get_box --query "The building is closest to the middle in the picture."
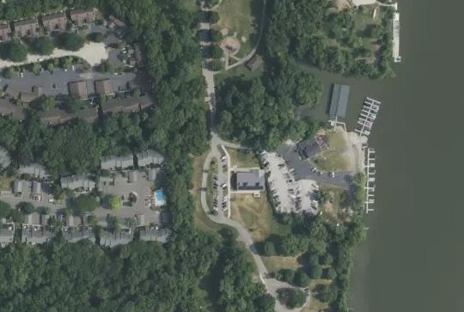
[238,170,266,191]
